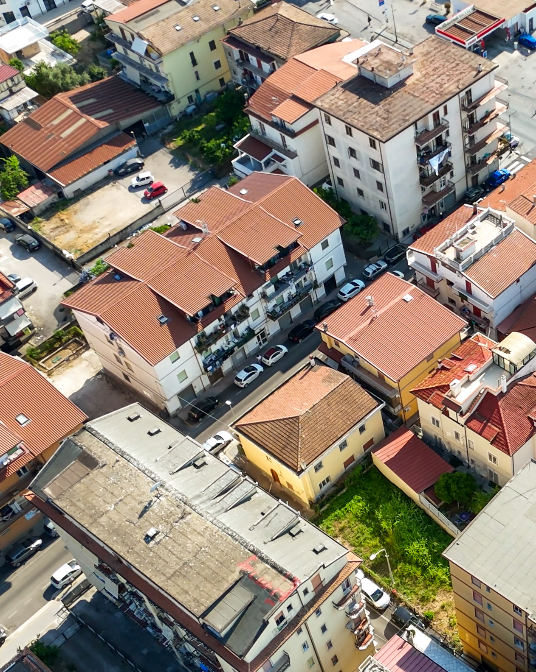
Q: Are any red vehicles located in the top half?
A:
Yes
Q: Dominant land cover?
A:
buildings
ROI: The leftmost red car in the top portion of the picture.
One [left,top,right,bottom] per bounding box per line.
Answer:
[143,180,169,199]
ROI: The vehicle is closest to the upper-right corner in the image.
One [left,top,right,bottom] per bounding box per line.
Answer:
[517,31,536,49]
